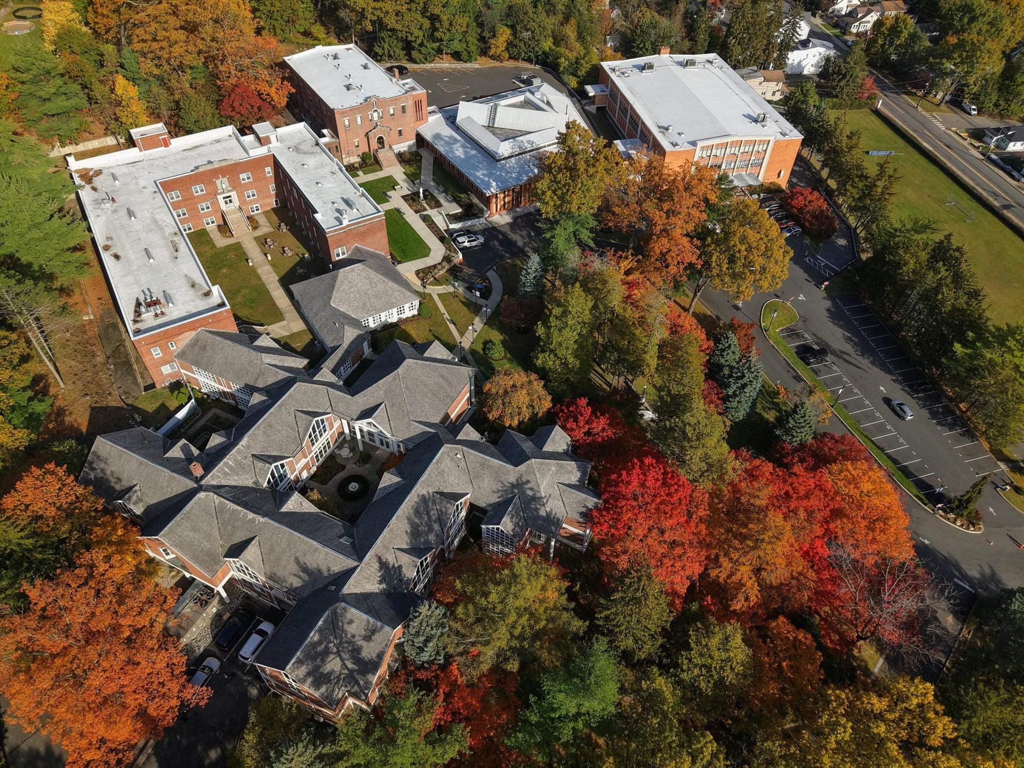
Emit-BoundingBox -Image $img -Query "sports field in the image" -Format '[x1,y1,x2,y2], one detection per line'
[823,108,1024,366]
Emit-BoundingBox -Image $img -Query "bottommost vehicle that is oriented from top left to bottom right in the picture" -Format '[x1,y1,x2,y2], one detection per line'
[886,398,919,423]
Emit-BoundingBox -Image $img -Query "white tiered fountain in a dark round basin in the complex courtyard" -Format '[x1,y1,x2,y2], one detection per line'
[337,472,369,499]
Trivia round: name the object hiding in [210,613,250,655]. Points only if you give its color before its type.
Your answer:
black car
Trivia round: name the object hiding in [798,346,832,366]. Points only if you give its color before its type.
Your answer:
black vehicle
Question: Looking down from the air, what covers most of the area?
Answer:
trees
